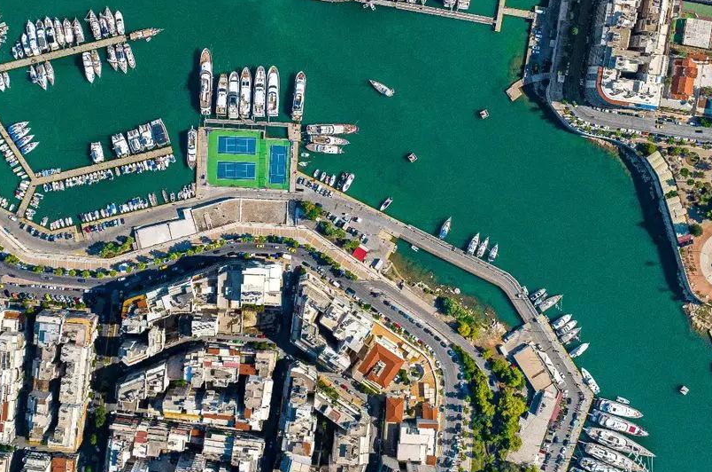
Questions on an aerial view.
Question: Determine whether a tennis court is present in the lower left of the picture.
No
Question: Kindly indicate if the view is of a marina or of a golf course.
marina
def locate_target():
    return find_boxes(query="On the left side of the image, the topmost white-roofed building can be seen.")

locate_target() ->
[135,211,198,249]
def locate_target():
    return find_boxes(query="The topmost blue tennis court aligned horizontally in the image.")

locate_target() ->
[217,137,257,155]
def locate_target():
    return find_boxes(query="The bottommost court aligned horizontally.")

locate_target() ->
[217,162,256,179]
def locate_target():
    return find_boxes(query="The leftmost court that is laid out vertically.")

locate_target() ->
[270,145,287,183]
